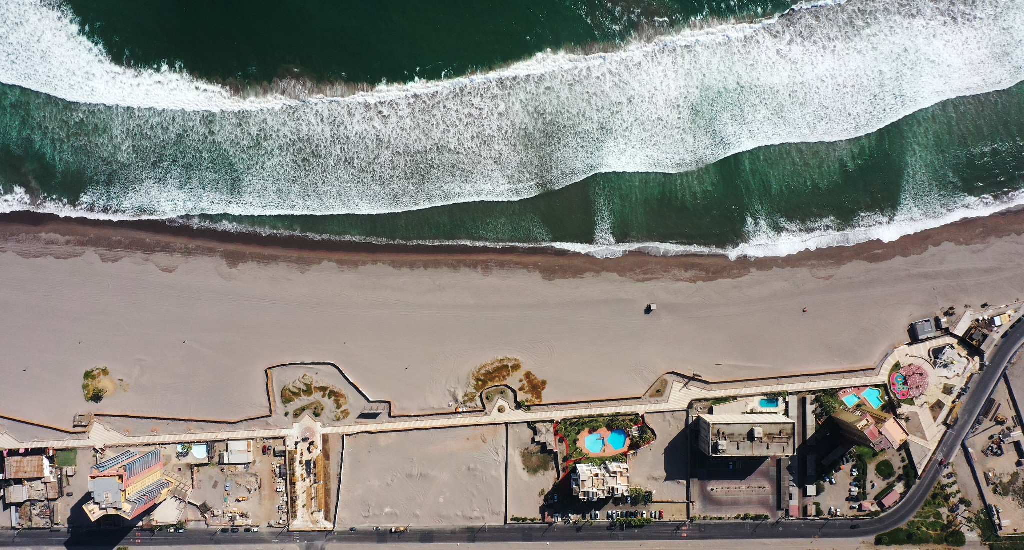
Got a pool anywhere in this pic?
Yes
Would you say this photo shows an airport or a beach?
beach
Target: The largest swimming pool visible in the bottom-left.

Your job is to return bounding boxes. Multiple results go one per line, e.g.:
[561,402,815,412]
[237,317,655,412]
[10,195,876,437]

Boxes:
[190,444,208,459]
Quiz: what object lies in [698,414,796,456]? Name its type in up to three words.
building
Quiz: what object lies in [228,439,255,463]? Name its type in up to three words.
house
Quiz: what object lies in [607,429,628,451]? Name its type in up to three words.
swimming pool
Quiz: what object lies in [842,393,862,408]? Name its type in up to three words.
swimming pool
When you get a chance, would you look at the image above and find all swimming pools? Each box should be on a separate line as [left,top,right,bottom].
[861,387,883,410]
[190,444,208,459]
[585,433,605,453]
[758,398,779,408]
[607,429,628,451]
[842,393,862,408]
